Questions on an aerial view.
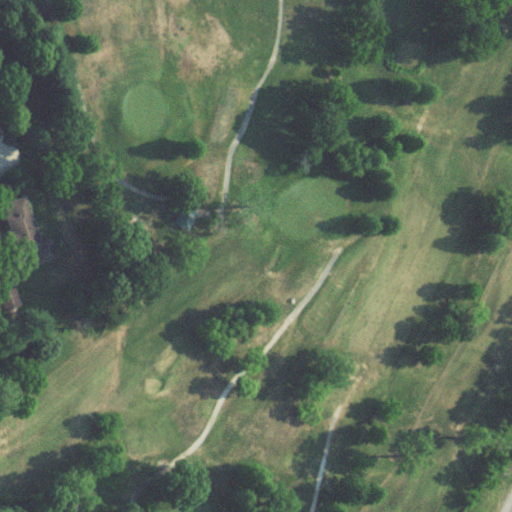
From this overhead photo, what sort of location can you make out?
golf course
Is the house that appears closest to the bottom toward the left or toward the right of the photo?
left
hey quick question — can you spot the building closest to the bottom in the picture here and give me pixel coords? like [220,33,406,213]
[1,286,22,314]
